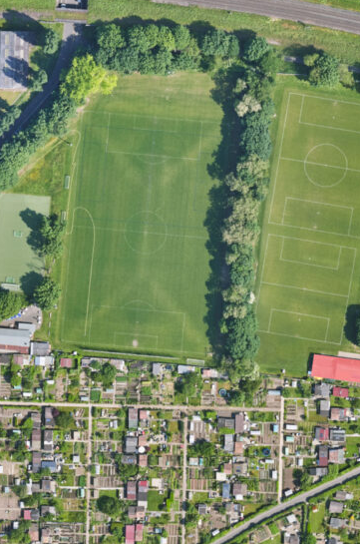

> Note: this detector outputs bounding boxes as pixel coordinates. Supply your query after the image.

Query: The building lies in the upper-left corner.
[0,30,28,89]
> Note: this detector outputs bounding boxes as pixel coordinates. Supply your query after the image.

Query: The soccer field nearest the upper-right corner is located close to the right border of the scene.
[267,91,360,239]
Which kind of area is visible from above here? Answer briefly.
sports ground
